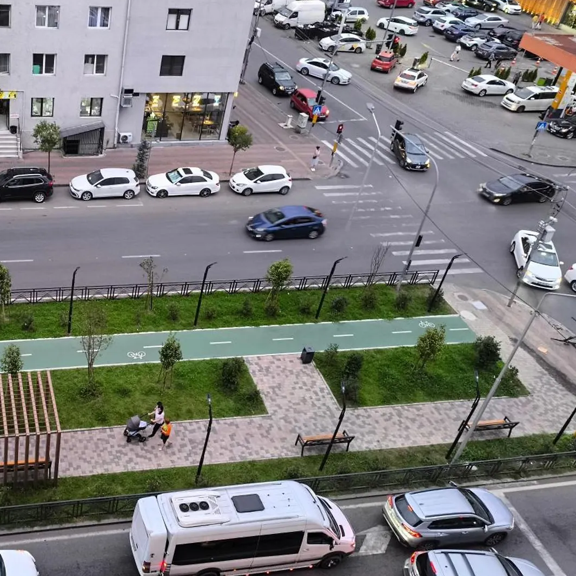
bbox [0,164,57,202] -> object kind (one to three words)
car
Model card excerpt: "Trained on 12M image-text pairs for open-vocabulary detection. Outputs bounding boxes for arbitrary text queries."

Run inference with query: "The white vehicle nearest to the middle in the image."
[227,163,294,195]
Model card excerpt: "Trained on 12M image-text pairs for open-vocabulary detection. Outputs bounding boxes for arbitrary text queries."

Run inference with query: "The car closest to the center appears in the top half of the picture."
[245,204,330,240]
